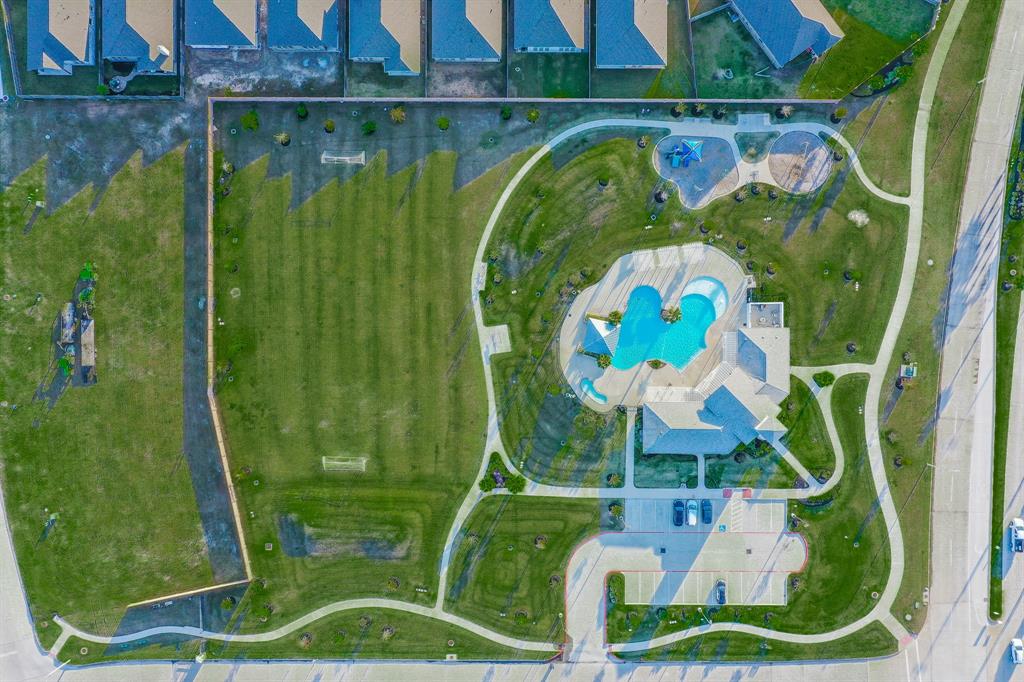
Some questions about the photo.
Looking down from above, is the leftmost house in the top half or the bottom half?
top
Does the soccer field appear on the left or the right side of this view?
left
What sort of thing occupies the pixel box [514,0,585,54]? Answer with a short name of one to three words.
house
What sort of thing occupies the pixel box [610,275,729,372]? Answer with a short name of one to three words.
swimming pool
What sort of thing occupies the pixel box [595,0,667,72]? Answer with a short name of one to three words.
house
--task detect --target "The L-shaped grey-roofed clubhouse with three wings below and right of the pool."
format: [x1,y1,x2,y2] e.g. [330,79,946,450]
[643,328,789,454]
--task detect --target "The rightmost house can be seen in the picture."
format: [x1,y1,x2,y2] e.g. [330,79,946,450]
[724,0,844,72]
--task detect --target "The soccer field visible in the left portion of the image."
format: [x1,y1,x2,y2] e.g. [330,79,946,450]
[222,151,469,470]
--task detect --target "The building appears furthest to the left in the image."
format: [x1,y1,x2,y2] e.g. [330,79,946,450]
[25,0,97,76]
